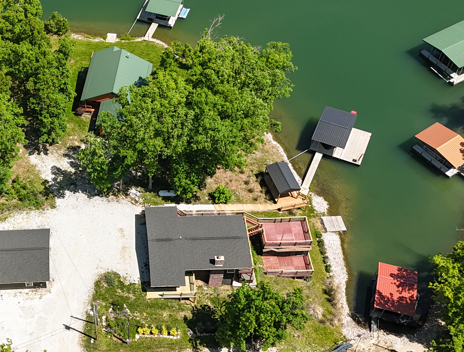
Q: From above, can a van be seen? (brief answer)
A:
No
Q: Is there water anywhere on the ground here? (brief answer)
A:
Yes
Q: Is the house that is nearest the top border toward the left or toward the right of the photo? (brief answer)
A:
left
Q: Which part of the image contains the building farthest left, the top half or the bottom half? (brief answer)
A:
bottom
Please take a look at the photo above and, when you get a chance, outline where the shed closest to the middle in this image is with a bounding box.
[263,163,300,201]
